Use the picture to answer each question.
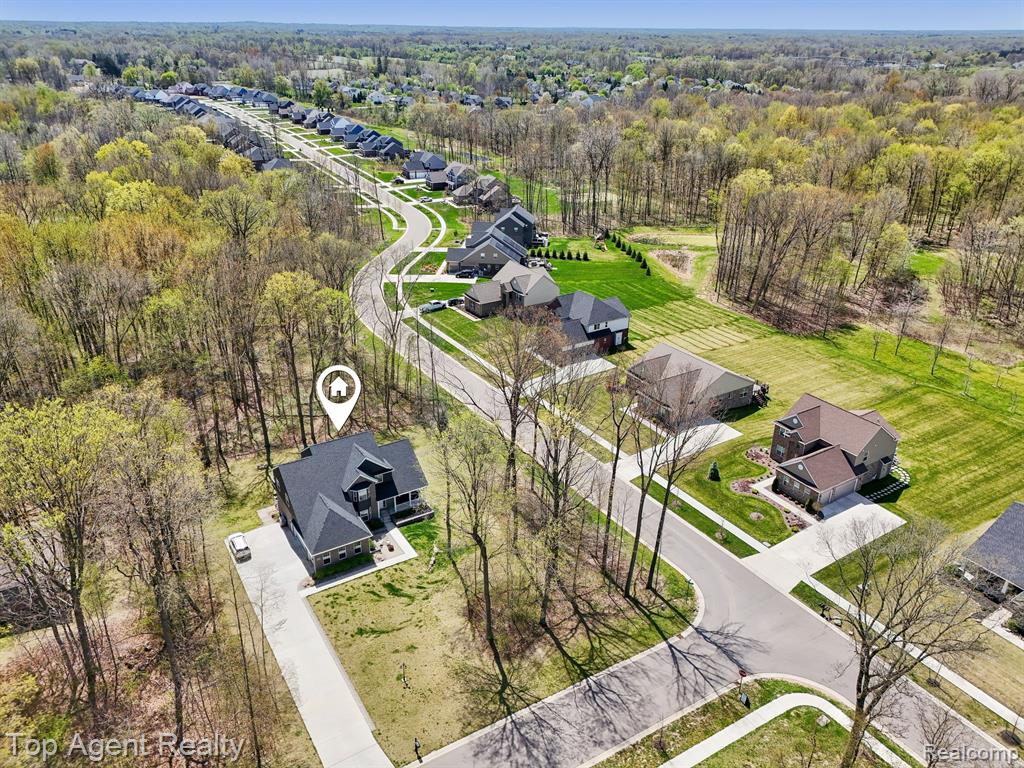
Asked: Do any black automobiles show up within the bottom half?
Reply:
No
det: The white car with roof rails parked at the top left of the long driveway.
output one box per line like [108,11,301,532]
[229,536,254,562]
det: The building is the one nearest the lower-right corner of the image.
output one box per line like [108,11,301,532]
[958,504,1024,624]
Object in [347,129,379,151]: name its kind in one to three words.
house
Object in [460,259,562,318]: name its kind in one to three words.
house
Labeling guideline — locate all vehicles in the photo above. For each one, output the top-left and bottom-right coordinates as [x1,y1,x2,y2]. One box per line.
[419,195,433,201]
[445,297,463,306]
[455,271,475,279]
[420,300,445,310]
[229,536,254,562]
